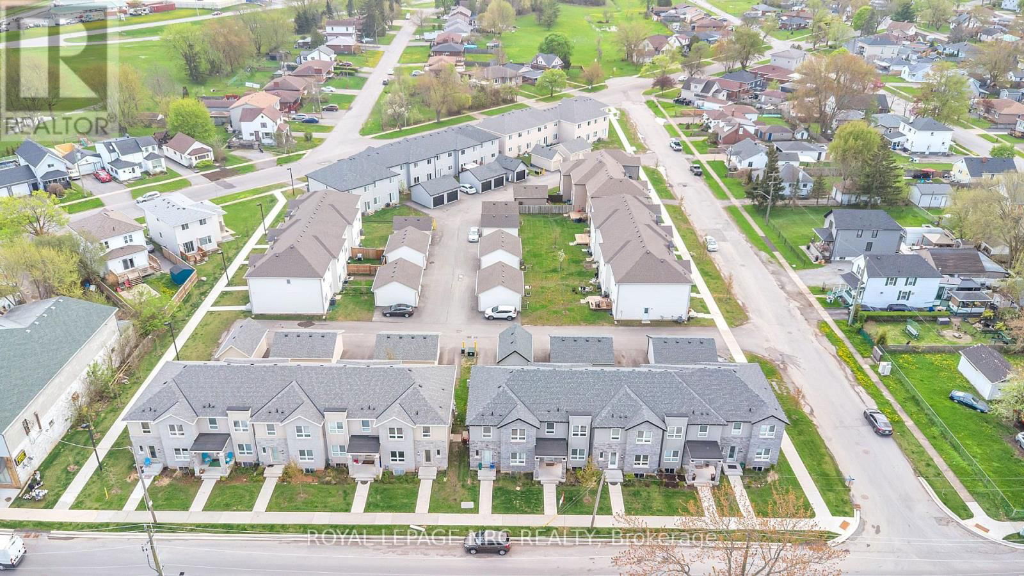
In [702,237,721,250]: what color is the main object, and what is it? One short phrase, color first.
white vehicle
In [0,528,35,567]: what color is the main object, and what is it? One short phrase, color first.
white van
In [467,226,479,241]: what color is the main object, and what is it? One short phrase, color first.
white vehicle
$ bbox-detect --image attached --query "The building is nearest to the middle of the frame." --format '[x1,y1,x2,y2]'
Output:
[476,259,523,307]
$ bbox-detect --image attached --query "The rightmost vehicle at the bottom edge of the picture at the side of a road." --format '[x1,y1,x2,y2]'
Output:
[462,529,512,556]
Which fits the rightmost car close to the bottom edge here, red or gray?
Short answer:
gray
